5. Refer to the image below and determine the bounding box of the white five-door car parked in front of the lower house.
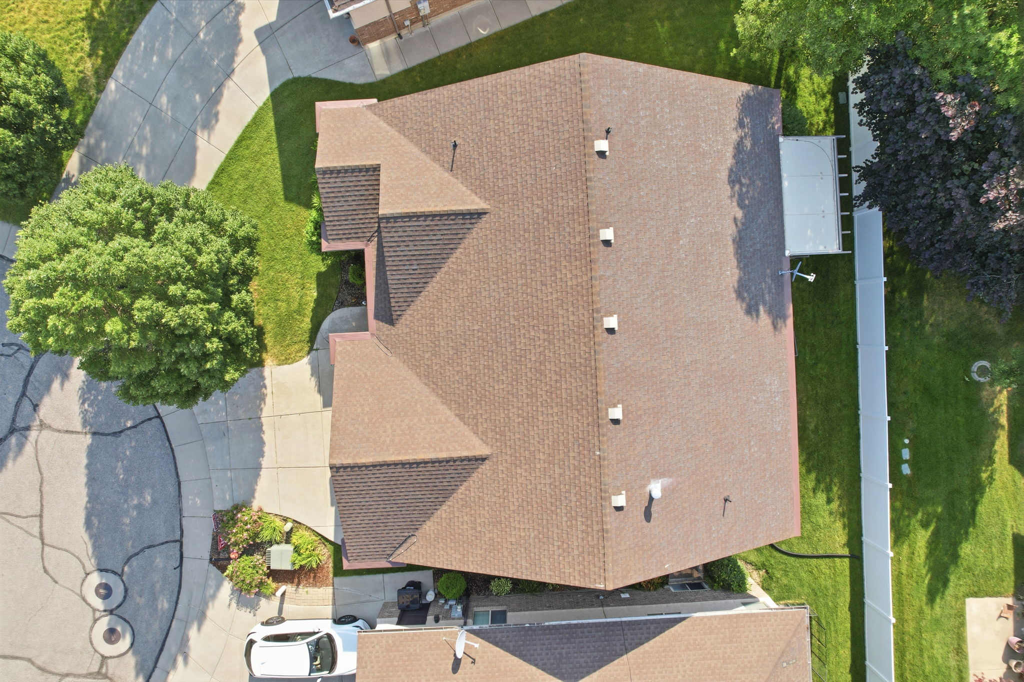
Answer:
[245,616,371,682]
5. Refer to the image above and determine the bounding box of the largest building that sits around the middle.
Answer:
[314,51,804,591]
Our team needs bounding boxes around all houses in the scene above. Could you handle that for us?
[356,585,813,682]
[322,0,488,49]
[314,51,804,591]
